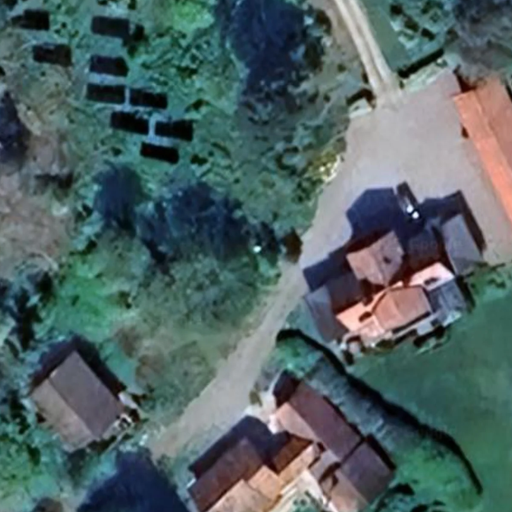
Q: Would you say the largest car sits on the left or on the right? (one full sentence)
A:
The largest car sits on the right side.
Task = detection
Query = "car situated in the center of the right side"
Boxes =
[395,182,424,222]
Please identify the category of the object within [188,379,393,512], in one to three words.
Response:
house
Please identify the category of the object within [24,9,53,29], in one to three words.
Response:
solar array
